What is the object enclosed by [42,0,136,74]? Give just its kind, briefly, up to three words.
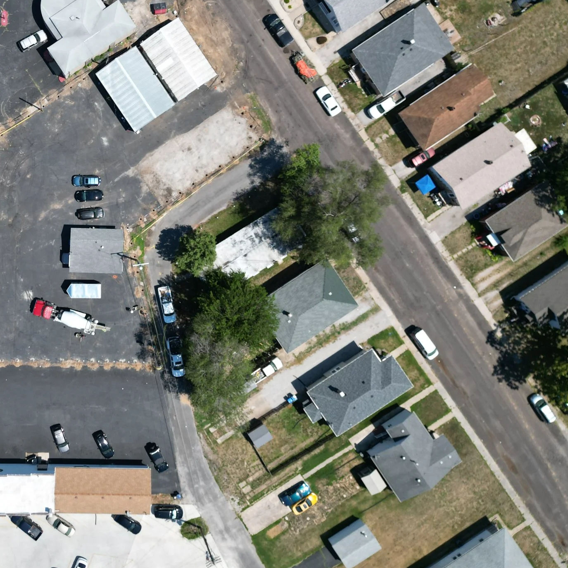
building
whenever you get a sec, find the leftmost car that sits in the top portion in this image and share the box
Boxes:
[16,31,49,52]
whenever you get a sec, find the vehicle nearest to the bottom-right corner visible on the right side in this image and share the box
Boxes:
[528,390,558,426]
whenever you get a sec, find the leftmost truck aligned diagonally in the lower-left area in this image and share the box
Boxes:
[8,516,43,543]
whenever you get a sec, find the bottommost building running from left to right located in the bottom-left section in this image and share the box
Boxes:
[0,460,152,518]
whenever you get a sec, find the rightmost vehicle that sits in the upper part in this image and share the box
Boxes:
[409,147,437,167]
